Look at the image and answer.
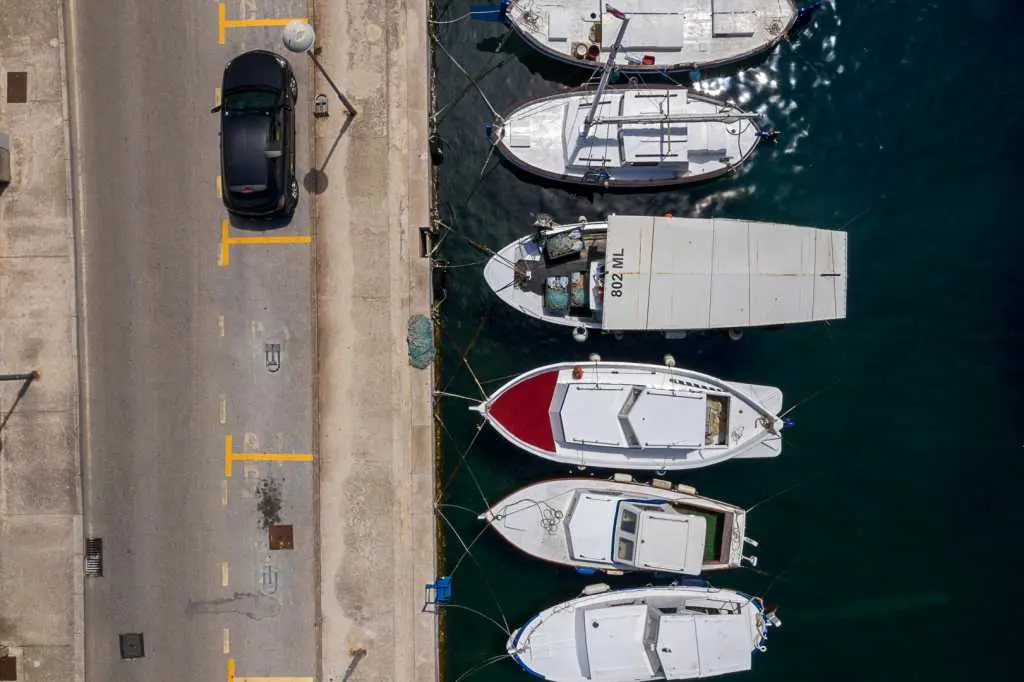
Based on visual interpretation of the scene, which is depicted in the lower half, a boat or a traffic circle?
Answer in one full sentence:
Looking in the lower half, you will find a boat.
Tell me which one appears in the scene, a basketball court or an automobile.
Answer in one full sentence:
It is an automobile that can be seen here.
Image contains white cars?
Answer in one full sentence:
No, the picture doesn't show any white car.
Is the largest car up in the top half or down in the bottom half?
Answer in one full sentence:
The top half of the photo is where the largest car is.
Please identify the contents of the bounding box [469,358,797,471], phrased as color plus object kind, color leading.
white boat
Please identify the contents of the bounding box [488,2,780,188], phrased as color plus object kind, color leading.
white boat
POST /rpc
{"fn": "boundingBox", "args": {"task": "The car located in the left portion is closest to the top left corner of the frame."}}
[209,48,300,219]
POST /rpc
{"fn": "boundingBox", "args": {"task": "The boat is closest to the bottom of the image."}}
[505,583,781,682]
